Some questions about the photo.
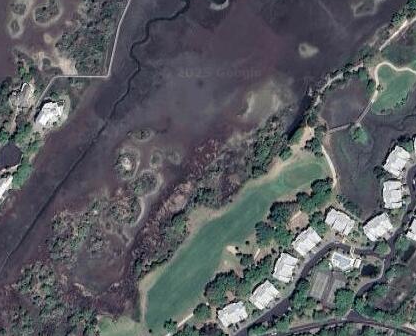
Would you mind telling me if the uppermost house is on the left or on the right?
left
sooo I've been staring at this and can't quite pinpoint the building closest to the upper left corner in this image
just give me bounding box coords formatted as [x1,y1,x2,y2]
[11,80,34,105]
